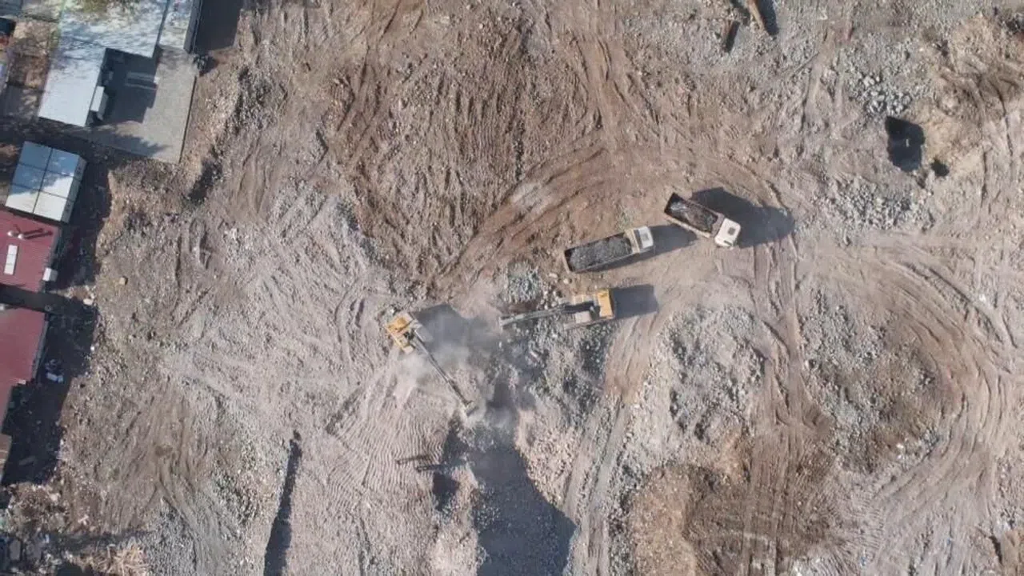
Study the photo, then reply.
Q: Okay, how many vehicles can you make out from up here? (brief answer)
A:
4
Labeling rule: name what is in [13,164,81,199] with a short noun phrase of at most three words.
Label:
building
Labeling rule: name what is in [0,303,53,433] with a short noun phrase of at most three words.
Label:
house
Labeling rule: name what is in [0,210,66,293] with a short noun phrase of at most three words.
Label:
house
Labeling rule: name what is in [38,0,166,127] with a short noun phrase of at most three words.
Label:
building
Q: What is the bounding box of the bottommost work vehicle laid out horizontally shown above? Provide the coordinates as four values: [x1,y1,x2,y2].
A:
[499,287,618,331]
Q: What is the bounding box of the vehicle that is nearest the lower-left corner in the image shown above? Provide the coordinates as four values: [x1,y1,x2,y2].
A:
[380,308,481,423]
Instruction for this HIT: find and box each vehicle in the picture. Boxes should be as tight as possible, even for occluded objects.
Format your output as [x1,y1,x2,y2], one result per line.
[663,187,746,250]
[562,223,658,273]
[380,308,481,423]
[499,287,618,331]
